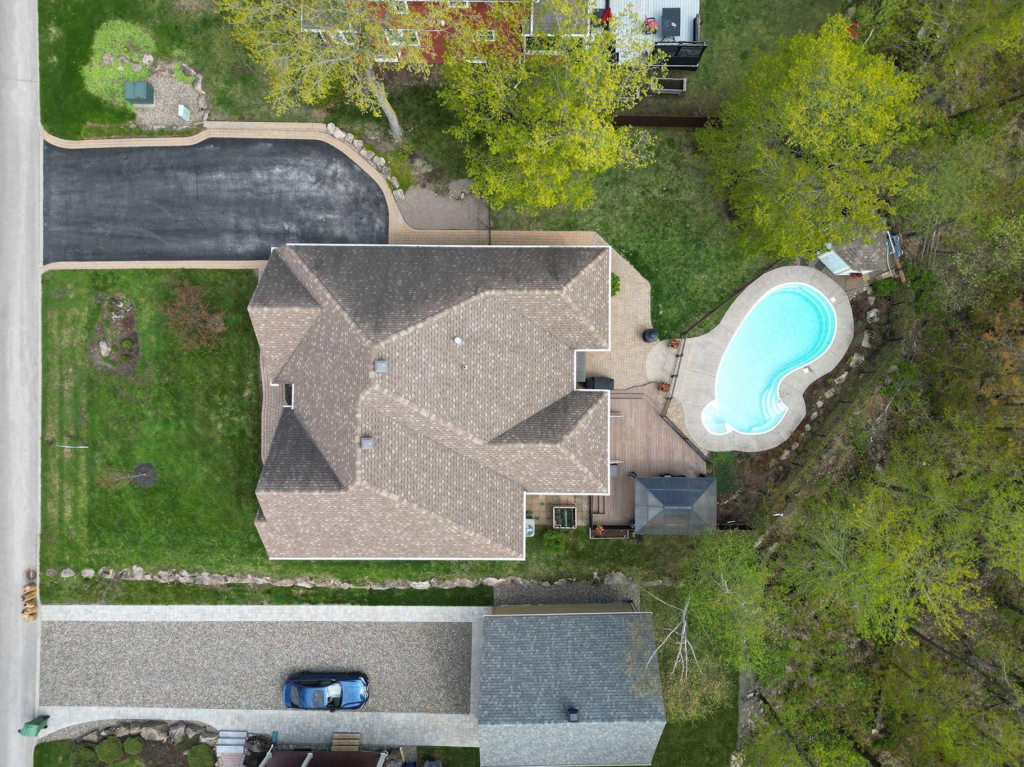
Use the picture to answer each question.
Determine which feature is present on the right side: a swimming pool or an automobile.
swimming pool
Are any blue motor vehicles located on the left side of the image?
Yes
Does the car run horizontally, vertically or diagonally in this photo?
horizontally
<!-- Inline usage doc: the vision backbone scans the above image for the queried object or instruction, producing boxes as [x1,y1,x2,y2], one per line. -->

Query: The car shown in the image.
[281,673,367,716]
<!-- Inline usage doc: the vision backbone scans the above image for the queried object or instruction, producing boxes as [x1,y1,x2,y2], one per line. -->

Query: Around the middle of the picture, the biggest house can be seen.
[247,244,612,561]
